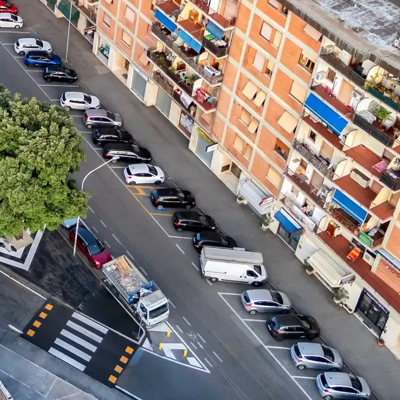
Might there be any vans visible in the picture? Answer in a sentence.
Yes, a van is visible in the scene.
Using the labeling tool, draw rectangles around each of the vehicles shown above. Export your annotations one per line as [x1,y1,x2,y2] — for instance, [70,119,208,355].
[68,223,112,271]
[23,47,64,68]
[122,164,167,186]
[101,141,153,165]
[0,13,24,31]
[78,105,128,130]
[149,186,197,210]
[41,64,80,86]
[13,35,54,56]
[195,241,270,288]
[238,288,295,315]
[264,312,324,344]
[167,207,222,234]
[90,123,137,148]
[310,371,376,400]
[101,259,174,340]
[0,0,20,16]
[57,88,103,111]
[53,205,87,244]
[285,341,349,373]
